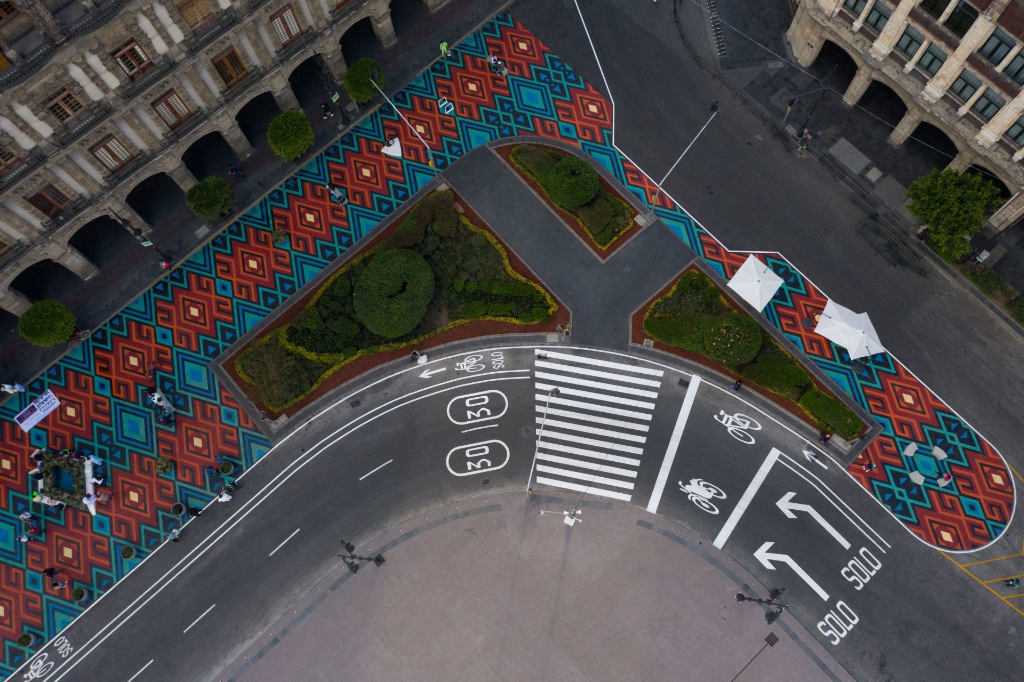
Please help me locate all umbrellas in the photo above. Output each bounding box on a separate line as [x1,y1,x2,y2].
[726,254,784,314]
[800,299,857,349]
[846,312,884,375]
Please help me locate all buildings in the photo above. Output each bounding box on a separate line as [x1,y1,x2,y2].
[785,0,1024,229]
[0,0,442,315]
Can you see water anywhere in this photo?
No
